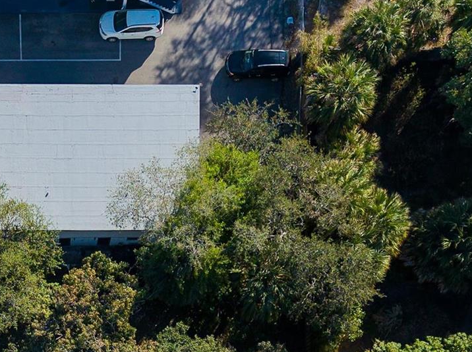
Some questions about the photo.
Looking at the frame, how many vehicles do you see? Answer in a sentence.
My tally gives 2 vehicles in this view.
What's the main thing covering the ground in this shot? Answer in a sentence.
Most of the picture is covered by trees.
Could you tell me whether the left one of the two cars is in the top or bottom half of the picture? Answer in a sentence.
The left one of the two cars sits in the top half of the picture.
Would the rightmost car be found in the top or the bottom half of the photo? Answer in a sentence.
You can find the rightmost car in the top half.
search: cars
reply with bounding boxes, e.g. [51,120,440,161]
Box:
[98,6,164,42]
[222,44,292,80]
